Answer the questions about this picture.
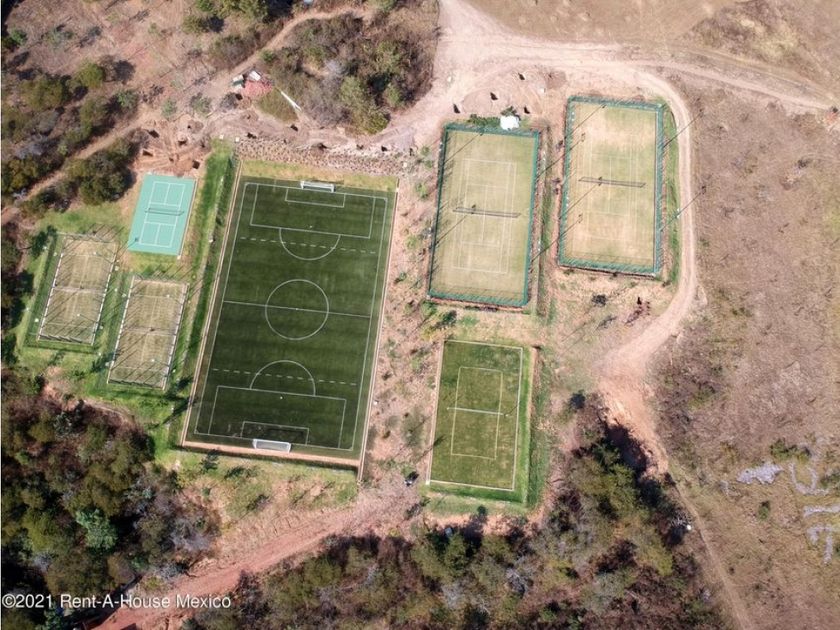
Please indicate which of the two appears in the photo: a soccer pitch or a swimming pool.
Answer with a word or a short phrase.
soccer pitch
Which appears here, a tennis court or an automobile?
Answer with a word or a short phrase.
tennis court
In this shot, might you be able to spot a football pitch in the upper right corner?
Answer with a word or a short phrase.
No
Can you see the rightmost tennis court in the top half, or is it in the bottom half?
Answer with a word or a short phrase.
top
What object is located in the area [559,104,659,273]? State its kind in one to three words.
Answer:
tennis court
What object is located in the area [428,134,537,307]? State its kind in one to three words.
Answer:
tennis court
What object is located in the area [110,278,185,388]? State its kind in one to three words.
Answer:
sports court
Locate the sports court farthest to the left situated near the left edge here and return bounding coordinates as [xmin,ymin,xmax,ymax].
[38,239,116,345]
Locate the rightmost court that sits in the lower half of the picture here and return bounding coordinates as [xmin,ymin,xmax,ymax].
[427,340,535,503]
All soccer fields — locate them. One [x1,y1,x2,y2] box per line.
[180,158,404,485]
